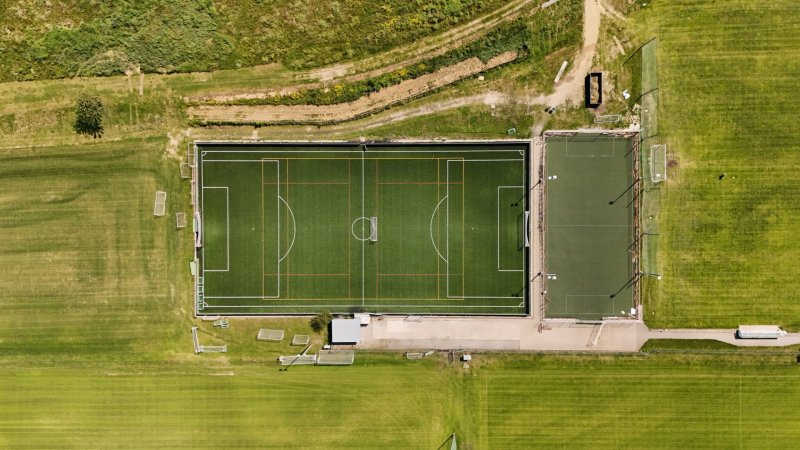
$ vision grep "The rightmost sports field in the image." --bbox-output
[646,0,800,331]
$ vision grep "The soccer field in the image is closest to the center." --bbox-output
[197,144,529,315]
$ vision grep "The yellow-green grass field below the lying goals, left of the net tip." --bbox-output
[0,364,460,450]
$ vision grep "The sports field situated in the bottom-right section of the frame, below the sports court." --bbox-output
[486,367,800,450]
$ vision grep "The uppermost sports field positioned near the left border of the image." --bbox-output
[0,140,189,353]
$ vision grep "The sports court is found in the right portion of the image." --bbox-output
[547,135,634,319]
